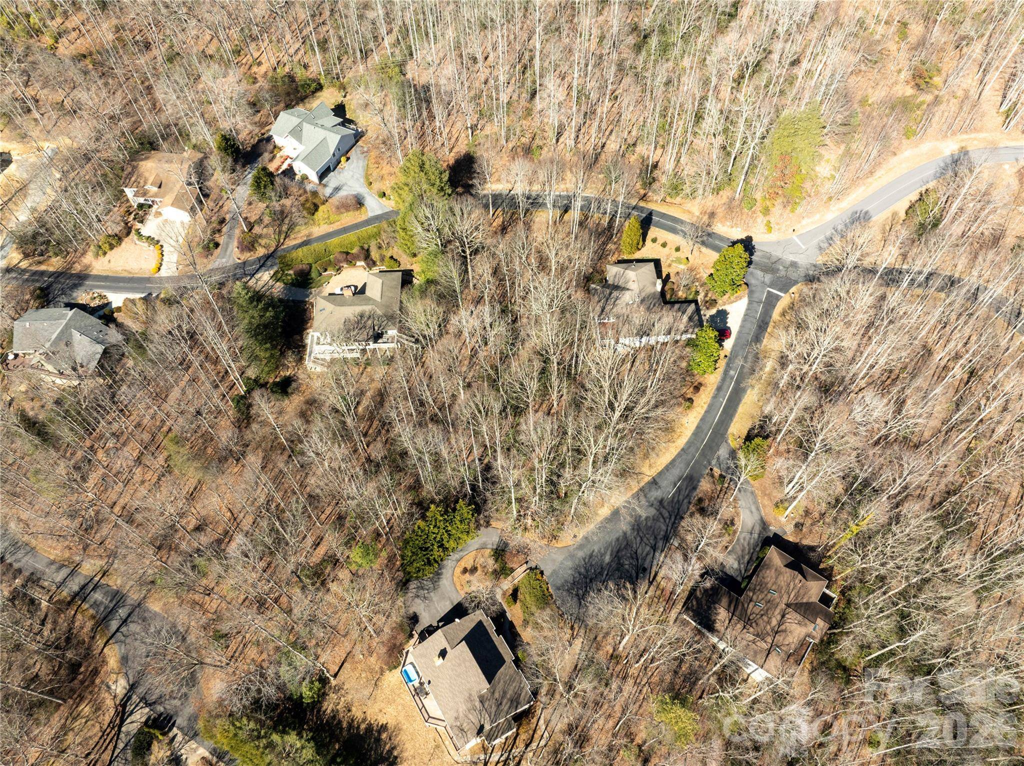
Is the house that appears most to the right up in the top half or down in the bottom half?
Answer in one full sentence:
You can find the house that appears most to the right in the bottom half.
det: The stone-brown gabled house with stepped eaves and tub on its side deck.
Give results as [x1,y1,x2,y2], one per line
[399,610,535,753]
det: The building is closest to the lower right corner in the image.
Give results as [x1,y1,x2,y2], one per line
[682,546,840,680]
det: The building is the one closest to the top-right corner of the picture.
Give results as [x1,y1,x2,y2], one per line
[589,262,702,348]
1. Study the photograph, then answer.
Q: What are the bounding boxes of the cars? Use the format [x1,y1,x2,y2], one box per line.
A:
[710,328,733,340]
[334,284,357,295]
